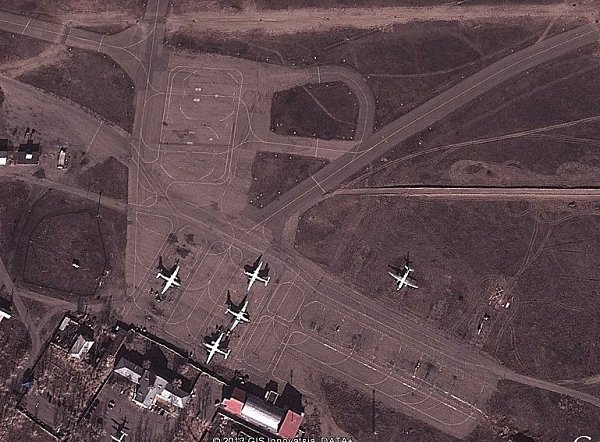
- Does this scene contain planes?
Yes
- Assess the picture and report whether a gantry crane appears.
No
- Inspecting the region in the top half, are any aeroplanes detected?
No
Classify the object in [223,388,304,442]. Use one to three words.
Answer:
building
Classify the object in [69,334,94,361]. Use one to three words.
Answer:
house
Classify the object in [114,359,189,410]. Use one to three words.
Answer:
building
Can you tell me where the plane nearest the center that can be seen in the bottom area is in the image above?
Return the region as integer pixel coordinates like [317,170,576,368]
[244,261,271,292]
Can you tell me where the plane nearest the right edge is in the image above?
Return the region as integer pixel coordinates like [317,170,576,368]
[388,264,420,290]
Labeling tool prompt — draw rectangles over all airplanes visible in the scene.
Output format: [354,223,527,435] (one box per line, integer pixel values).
[223,301,250,332]
[154,264,180,295]
[109,432,127,442]
[204,334,231,364]
[388,264,420,290]
[244,261,271,292]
